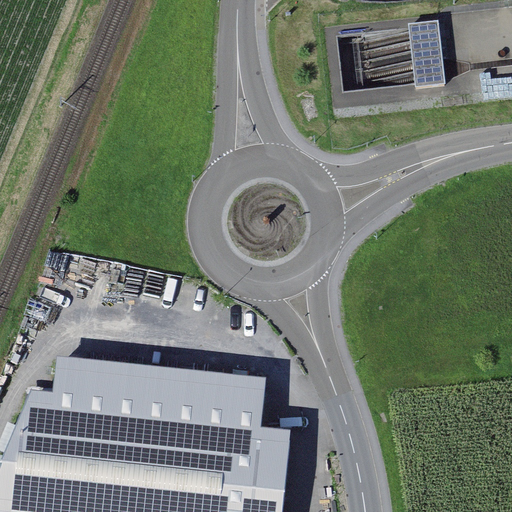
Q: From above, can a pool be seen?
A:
No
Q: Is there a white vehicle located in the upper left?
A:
No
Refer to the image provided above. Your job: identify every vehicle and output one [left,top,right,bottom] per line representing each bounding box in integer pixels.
[194,288,204,312]
[230,306,242,330]
[162,277,178,309]
[40,288,72,310]
[279,416,309,429]
[244,312,255,336]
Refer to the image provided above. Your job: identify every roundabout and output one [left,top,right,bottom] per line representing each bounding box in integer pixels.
[188,143,346,301]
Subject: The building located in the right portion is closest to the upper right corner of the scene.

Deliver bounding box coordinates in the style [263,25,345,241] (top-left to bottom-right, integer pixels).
[408,20,445,88]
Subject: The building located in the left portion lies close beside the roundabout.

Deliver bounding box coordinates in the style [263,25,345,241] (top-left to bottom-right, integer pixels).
[0,356,290,512]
